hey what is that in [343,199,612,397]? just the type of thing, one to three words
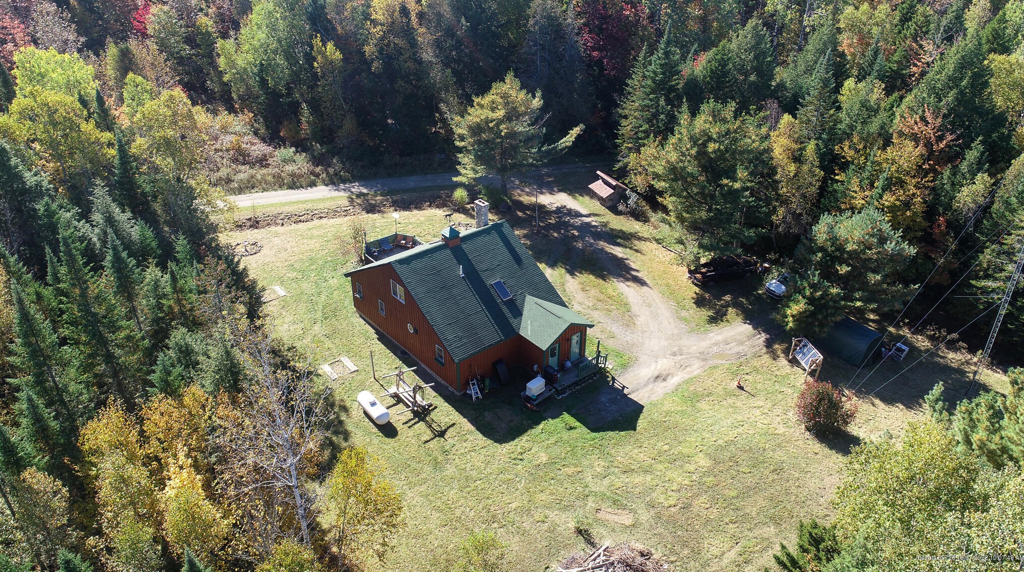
house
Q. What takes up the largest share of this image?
trees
